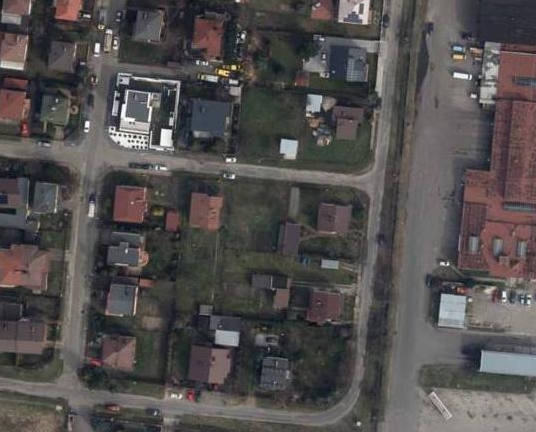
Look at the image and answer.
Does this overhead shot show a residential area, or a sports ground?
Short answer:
residential area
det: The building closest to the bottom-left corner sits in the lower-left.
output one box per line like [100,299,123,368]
[0,304,48,354]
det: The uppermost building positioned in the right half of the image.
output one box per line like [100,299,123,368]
[338,0,371,26]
